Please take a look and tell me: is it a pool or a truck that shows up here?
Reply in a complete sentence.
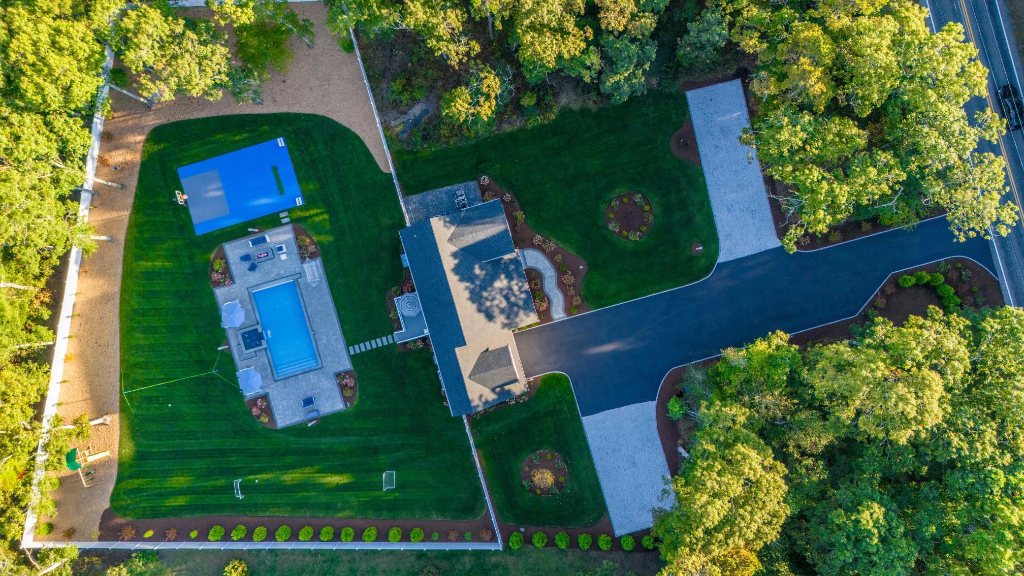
Looking from above, you can make out a pool.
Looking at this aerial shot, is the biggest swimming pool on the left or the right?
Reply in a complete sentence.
The biggest swimming pool is on the left side of the image.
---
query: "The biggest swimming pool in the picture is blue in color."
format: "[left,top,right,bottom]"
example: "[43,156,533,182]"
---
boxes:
[246,272,324,384]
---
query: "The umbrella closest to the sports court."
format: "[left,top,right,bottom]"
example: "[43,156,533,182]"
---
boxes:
[224,303,246,326]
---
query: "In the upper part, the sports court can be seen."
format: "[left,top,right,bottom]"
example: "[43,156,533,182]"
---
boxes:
[177,137,304,235]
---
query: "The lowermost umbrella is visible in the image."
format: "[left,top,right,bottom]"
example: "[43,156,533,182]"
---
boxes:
[241,369,264,391]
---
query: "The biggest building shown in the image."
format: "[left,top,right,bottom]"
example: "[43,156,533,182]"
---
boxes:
[398,196,537,416]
